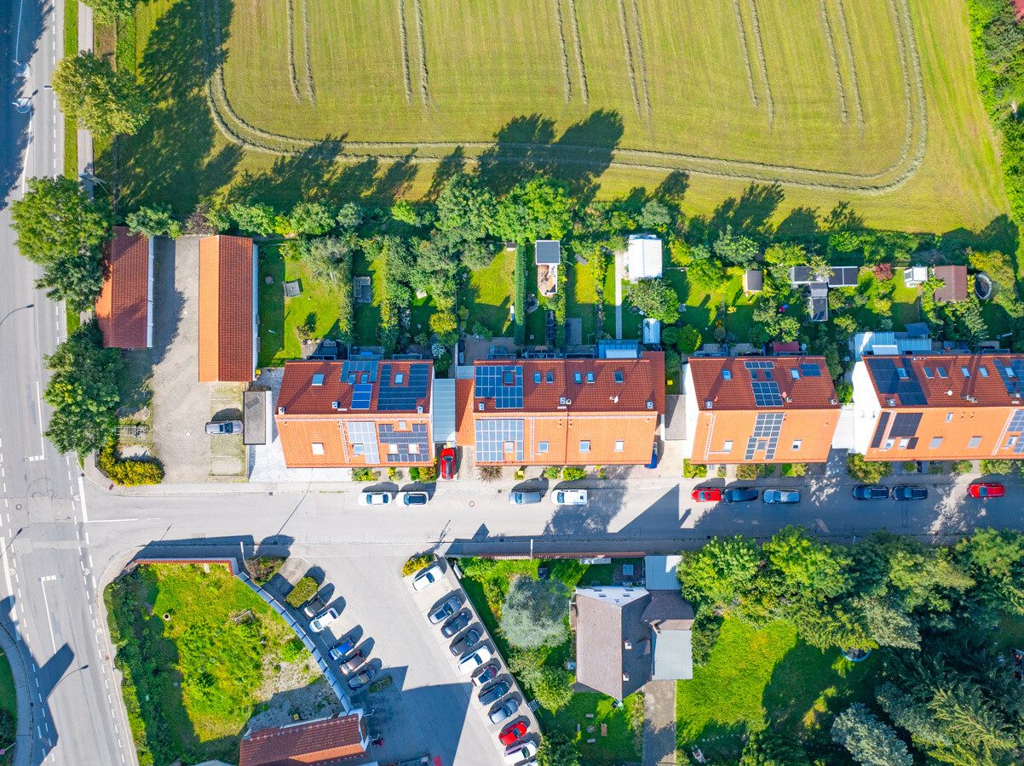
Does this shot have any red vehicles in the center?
Yes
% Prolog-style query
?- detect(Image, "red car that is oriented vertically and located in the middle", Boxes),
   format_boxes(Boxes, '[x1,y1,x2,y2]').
[439,447,455,480]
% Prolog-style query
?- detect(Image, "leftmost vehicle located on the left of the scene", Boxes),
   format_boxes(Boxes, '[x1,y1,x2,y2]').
[207,420,244,436]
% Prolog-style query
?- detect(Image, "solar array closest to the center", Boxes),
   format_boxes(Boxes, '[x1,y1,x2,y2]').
[475,365,523,407]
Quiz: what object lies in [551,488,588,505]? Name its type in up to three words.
vehicle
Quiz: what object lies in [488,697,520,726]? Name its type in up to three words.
car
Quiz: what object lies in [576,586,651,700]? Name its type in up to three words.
house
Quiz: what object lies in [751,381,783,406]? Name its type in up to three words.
solar array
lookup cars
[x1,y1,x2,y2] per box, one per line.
[477,677,511,708]
[358,490,394,507]
[440,611,473,638]
[690,487,721,503]
[889,485,927,501]
[306,593,330,615]
[412,565,445,591]
[850,484,888,501]
[397,490,430,507]
[488,697,520,726]
[439,447,455,480]
[329,636,358,661]
[644,441,660,472]
[339,649,368,676]
[722,487,758,504]
[470,661,501,690]
[509,489,542,505]
[498,718,529,748]
[428,595,462,623]
[207,420,244,436]
[762,488,799,505]
[449,627,482,657]
[504,737,537,766]
[458,645,492,675]
[309,605,341,631]
[347,662,379,691]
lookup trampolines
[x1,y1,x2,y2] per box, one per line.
[968,275,1003,297]
[838,644,870,666]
